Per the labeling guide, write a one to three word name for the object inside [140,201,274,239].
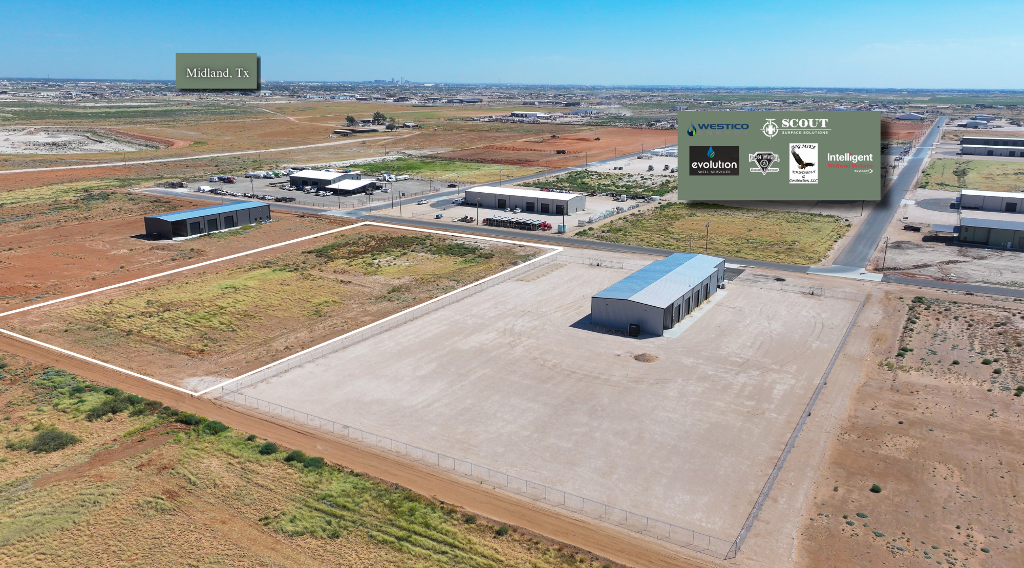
building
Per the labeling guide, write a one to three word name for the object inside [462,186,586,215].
building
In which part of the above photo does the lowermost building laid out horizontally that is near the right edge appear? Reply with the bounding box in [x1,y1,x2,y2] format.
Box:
[922,218,1024,249]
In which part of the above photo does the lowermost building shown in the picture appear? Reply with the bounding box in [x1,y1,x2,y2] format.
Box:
[590,253,727,336]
